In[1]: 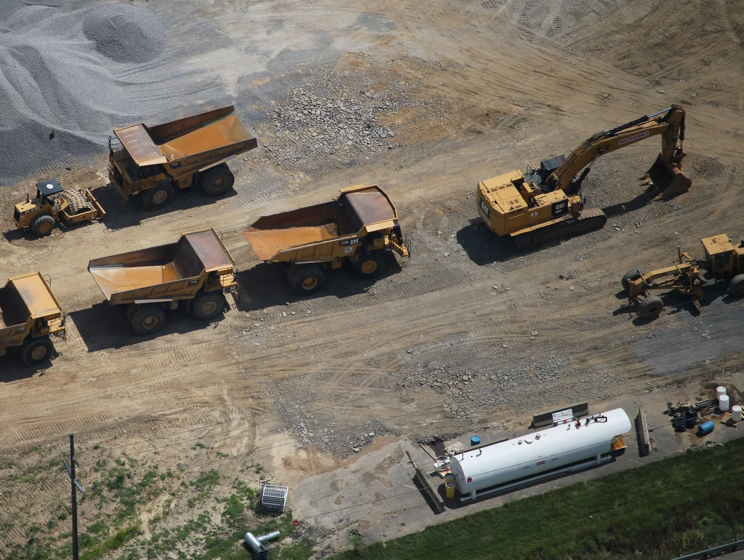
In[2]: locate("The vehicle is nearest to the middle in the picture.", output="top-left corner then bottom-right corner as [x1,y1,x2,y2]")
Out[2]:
[244,183,409,297]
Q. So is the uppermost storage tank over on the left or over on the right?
right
